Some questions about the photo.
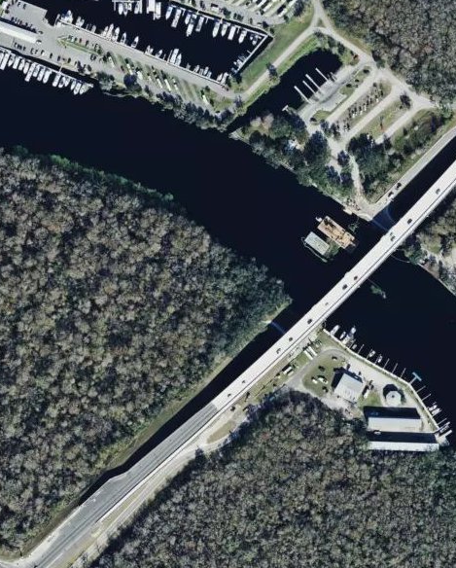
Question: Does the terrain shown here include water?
Yes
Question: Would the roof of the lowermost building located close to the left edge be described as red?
No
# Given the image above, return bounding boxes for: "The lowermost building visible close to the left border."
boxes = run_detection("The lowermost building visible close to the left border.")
[0,21,38,42]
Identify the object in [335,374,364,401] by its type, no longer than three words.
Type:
building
